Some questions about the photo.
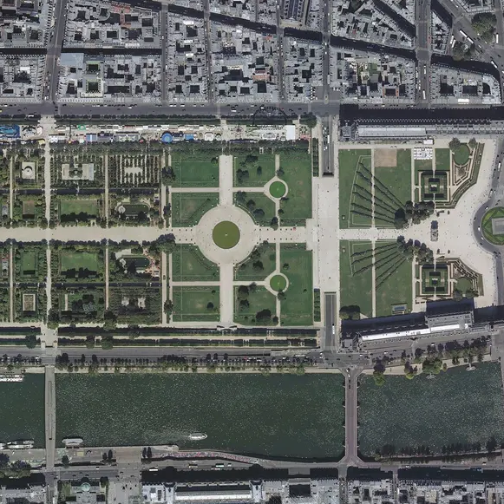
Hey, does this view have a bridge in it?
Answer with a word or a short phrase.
Yes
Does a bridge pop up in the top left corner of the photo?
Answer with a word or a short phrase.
No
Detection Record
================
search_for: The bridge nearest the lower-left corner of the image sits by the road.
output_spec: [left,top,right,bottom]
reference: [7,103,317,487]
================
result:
[43,365,56,473]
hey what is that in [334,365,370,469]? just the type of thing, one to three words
bridge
